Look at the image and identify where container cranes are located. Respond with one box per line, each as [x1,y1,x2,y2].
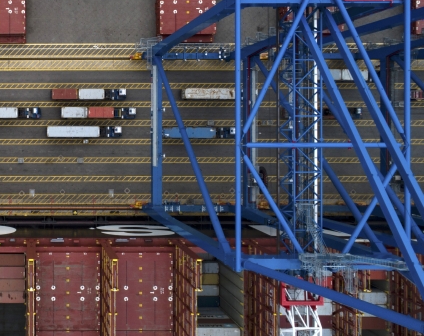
[128,0,424,336]
[262,8,424,252]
